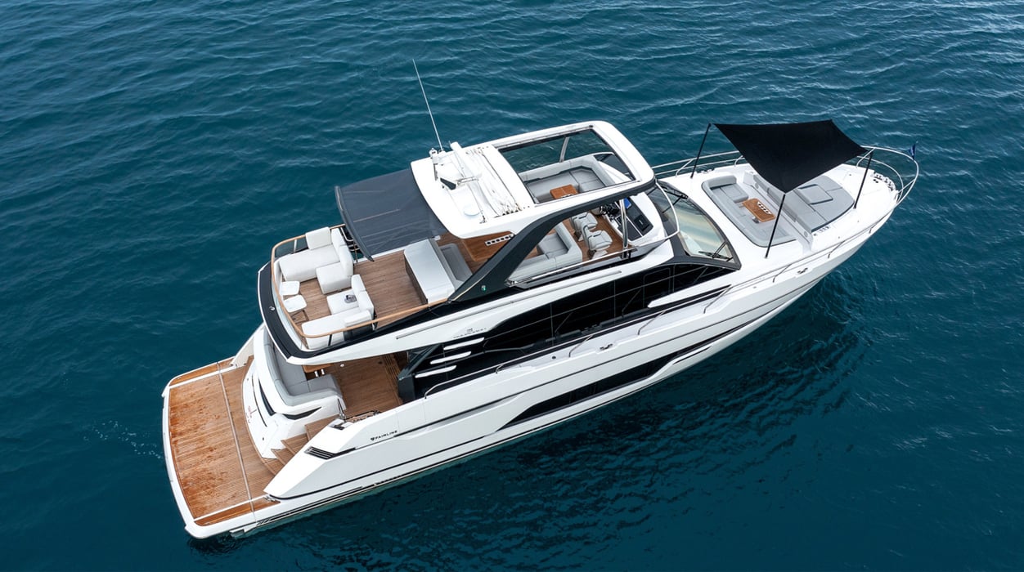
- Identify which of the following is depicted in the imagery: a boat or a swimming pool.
boat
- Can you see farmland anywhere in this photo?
No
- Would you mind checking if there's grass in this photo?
No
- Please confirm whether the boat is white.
Yes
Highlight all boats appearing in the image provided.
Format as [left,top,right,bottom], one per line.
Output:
[162,59,919,539]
